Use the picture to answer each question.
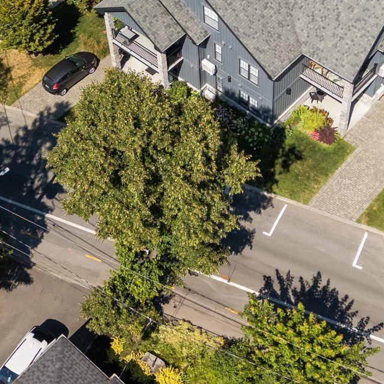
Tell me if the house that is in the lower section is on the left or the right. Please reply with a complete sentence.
You can find the house that is in the lower section on the left side of the picture.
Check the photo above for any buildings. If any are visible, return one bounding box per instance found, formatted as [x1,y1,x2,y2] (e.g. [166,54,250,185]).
[14,334,129,384]
[94,0,384,136]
